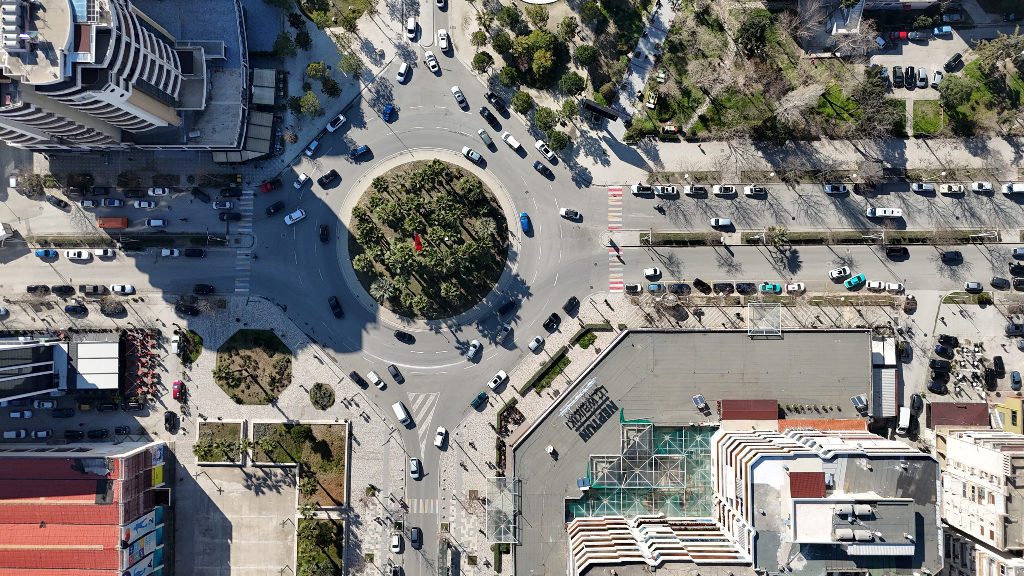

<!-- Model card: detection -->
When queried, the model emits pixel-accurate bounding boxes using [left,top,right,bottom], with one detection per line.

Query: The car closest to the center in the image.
[497,299,518,316]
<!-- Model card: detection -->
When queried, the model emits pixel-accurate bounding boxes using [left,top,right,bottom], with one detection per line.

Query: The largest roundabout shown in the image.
[292,103,565,377]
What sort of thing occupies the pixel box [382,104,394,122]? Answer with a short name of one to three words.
vehicle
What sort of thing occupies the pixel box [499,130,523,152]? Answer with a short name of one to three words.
vehicle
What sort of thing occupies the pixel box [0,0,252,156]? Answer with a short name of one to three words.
building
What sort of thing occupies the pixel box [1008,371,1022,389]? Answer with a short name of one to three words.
car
